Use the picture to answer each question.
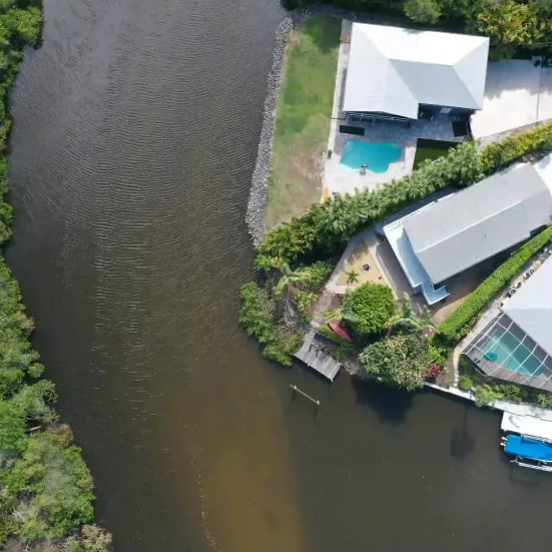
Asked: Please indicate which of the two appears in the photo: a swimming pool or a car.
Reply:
swimming pool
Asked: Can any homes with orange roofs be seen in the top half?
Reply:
No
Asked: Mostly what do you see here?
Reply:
water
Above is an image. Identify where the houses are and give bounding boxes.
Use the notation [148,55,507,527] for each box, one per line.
[382,164,552,304]
[499,255,552,357]
[343,23,490,128]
